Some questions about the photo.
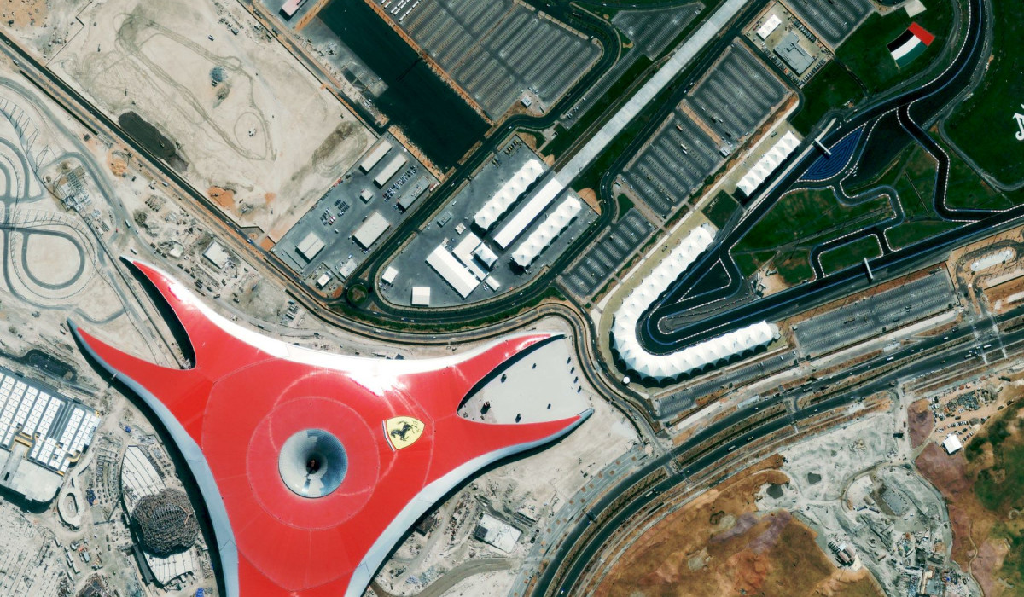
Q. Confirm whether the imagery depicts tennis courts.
No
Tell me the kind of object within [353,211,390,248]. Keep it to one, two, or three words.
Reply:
building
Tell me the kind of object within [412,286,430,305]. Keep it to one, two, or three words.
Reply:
shed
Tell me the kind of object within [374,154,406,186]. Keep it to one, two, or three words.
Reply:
shed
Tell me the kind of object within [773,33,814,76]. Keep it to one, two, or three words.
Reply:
building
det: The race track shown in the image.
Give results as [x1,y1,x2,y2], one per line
[635,0,1024,355]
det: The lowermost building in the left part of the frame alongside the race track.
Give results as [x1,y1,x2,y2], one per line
[56,257,594,597]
